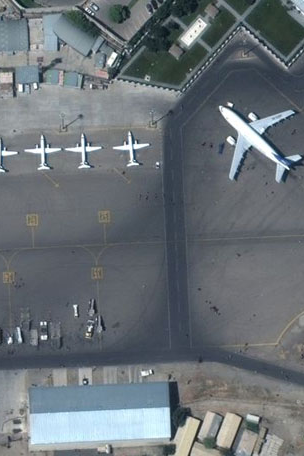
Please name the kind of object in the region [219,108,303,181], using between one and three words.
airplane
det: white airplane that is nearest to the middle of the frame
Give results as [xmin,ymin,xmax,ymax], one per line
[113,133,150,164]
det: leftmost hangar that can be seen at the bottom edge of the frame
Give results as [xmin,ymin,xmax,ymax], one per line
[30,383,171,449]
